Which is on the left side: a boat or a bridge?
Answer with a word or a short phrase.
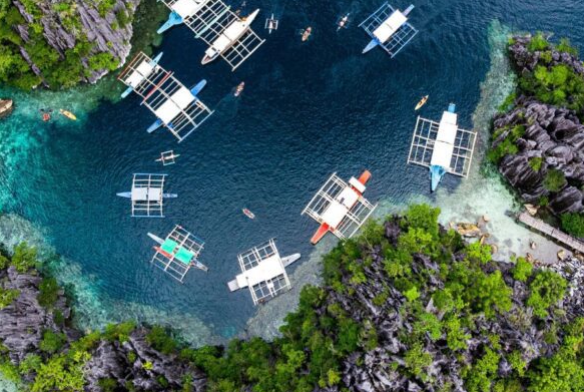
boat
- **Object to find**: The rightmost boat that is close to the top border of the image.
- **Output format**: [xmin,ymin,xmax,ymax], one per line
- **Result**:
[358,1,419,59]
